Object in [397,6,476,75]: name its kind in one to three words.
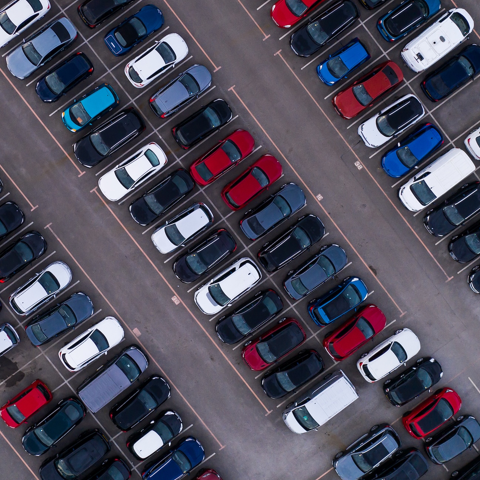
van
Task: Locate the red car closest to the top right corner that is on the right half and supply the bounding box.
[331,57,404,119]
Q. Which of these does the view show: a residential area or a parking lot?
parking lot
